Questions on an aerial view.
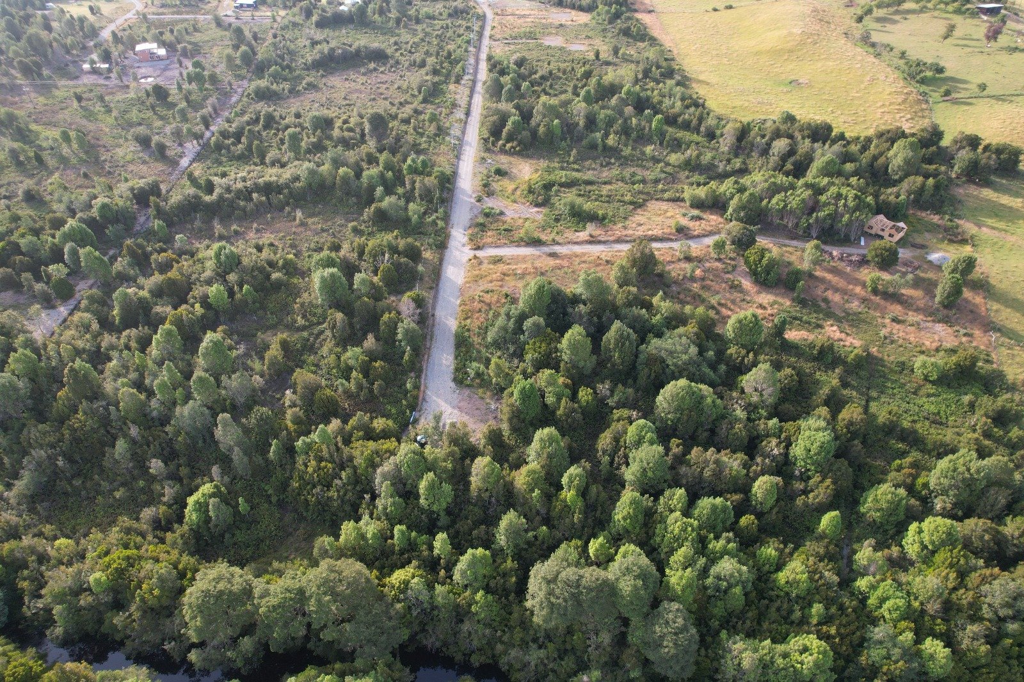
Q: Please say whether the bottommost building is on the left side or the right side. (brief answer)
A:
right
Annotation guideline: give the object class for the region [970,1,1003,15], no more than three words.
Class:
shed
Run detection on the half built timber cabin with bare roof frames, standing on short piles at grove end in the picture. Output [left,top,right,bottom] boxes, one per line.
[863,210,908,240]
